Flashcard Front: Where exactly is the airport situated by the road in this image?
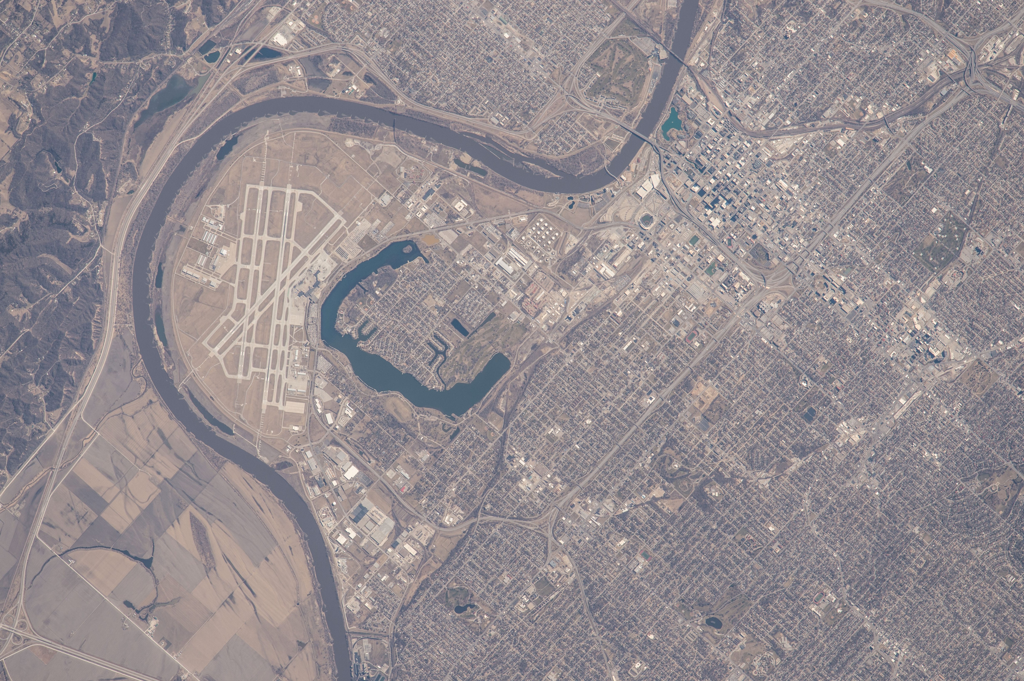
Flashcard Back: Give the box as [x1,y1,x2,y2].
[173,130,392,444]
